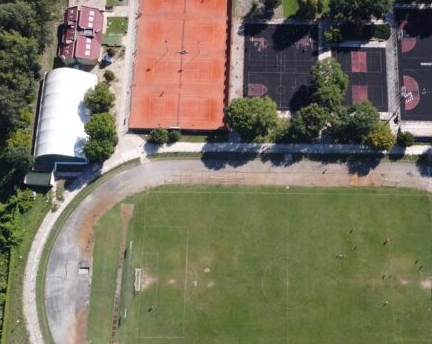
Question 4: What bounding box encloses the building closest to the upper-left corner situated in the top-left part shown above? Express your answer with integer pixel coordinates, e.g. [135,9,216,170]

[60,8,106,63]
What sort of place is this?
sports ground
